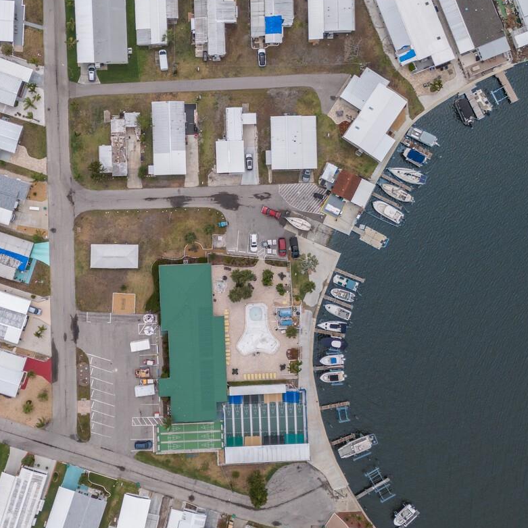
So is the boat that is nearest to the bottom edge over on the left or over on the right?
right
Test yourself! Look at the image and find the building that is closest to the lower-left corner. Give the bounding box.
[0,466,49,528]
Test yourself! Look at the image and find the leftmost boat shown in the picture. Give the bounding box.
[284,216,313,229]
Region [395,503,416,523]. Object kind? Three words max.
boat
